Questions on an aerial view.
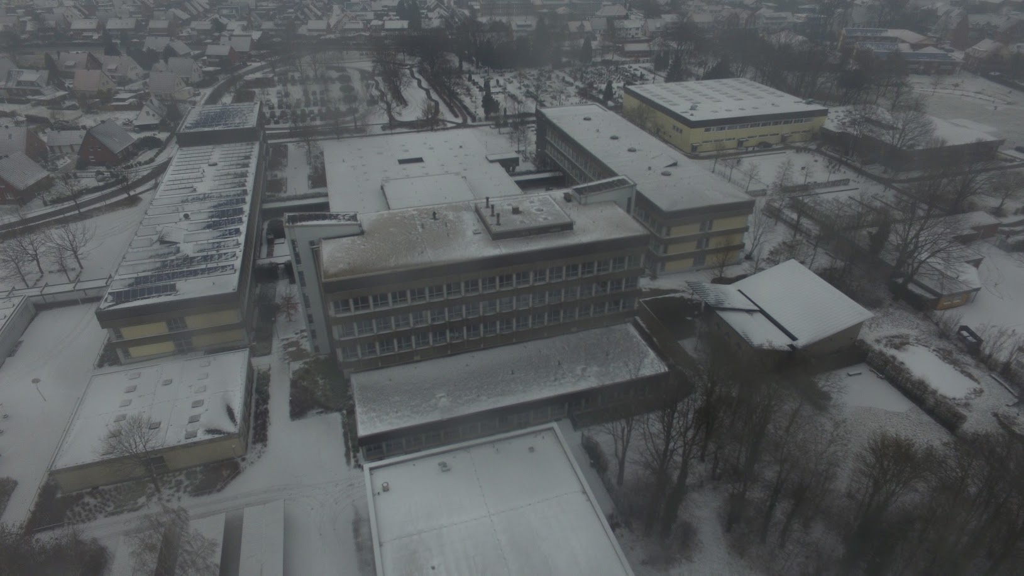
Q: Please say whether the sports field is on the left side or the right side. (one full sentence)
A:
The sports field appears in the right half of the scene.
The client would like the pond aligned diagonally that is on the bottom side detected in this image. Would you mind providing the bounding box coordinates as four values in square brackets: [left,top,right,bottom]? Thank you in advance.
[896,345,982,398]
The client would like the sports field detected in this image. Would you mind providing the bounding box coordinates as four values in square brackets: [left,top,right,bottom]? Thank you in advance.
[910,74,1024,144]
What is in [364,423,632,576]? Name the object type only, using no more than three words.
building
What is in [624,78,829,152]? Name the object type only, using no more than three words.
building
